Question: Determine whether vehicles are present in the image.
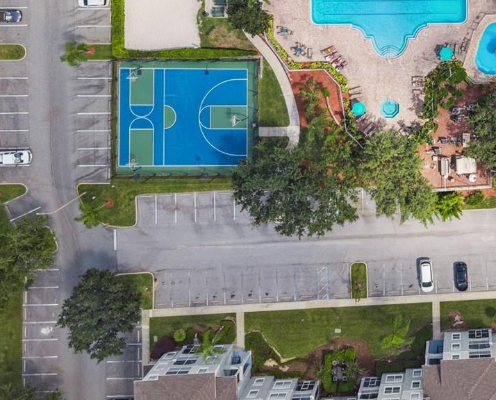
Yes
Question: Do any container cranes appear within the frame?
No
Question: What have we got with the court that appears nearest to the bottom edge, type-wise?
basketball court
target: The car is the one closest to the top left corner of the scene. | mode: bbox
[0,9,23,23]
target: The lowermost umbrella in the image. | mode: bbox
[352,101,367,116]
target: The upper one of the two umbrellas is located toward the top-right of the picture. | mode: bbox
[438,44,455,61]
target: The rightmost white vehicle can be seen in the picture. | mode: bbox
[418,257,434,291]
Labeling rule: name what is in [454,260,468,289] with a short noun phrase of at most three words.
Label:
car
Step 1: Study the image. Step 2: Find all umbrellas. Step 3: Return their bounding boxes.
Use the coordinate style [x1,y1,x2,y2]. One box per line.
[438,44,455,61]
[352,101,367,116]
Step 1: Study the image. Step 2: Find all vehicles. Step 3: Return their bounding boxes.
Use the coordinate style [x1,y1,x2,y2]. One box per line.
[454,260,468,289]
[0,9,23,23]
[81,0,110,9]
[0,150,31,167]
[418,257,434,291]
